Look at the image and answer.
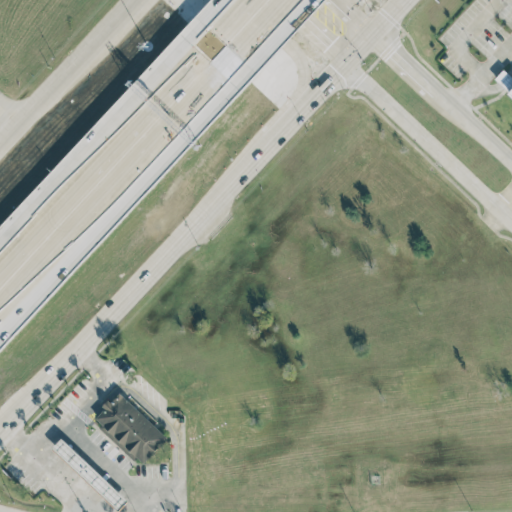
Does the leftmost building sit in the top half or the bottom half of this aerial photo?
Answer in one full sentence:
Seen from above, the leftmost building lies in the bottom half of the view.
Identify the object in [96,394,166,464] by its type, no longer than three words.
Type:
building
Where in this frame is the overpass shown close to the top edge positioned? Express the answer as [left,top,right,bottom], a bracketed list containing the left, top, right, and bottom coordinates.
[195,0,324,74]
